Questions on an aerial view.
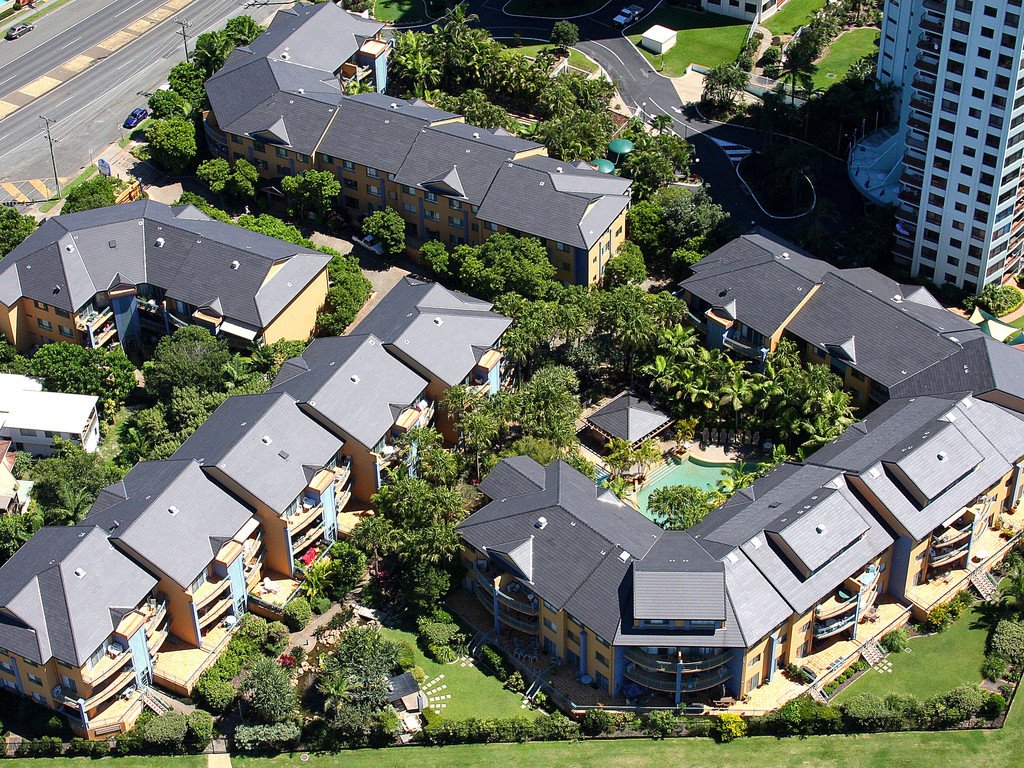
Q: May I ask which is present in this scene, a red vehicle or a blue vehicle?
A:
blue vehicle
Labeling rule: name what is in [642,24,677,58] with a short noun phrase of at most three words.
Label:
shed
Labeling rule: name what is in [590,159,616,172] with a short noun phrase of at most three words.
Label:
umbrella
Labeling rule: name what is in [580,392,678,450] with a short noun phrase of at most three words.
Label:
gazebo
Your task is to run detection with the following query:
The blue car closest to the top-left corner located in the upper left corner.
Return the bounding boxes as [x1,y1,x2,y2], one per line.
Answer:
[122,110,147,126]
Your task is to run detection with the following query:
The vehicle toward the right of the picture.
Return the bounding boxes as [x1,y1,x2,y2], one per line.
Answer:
[614,6,641,22]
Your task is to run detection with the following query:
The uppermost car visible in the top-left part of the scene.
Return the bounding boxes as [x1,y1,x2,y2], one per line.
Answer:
[6,24,31,38]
